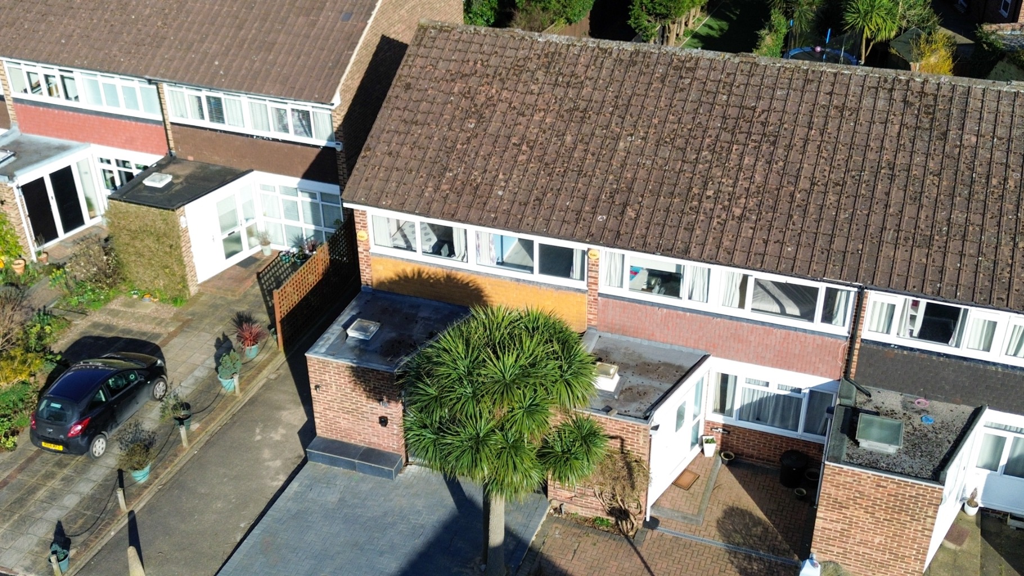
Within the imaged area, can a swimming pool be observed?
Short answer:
No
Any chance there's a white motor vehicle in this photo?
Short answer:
No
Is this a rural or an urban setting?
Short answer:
urban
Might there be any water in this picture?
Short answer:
No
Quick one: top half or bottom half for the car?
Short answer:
bottom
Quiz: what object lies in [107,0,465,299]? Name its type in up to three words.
house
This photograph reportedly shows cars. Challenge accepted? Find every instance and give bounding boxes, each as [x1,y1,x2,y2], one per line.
[27,355,169,465]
